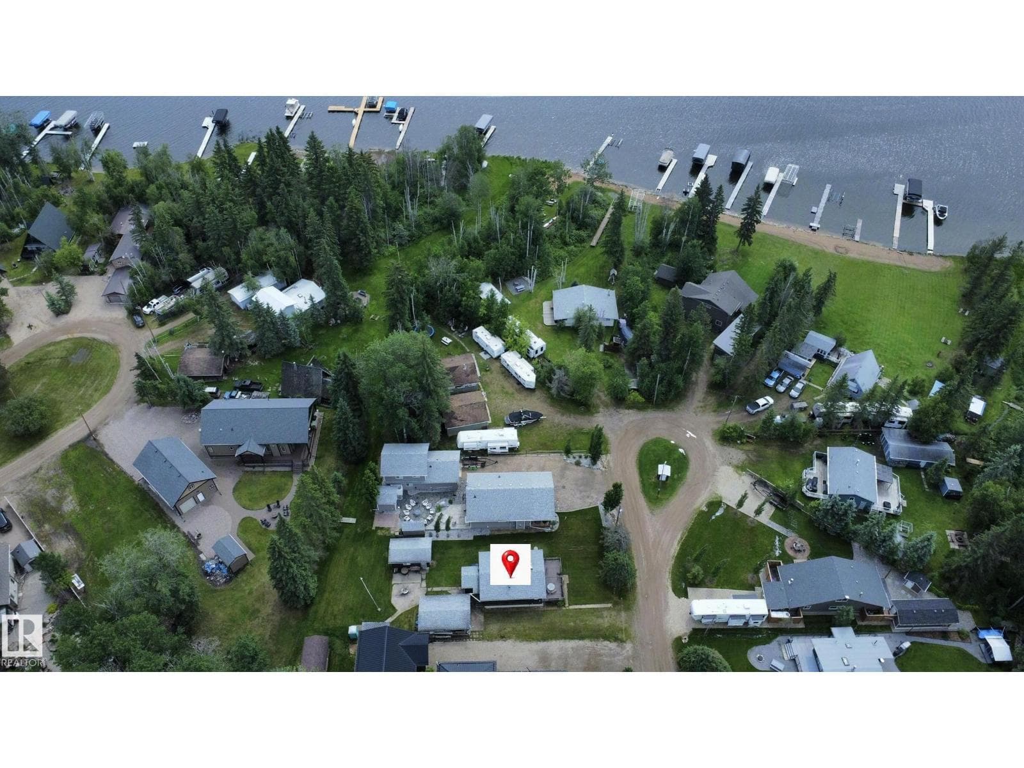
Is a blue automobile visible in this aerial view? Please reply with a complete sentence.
Yes, I can see a blue automobile in this picture.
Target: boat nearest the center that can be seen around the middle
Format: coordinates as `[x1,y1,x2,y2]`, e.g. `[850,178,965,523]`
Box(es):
[502,406,542,423]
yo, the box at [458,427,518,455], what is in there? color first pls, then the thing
white trailer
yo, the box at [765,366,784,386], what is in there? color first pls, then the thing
blue car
